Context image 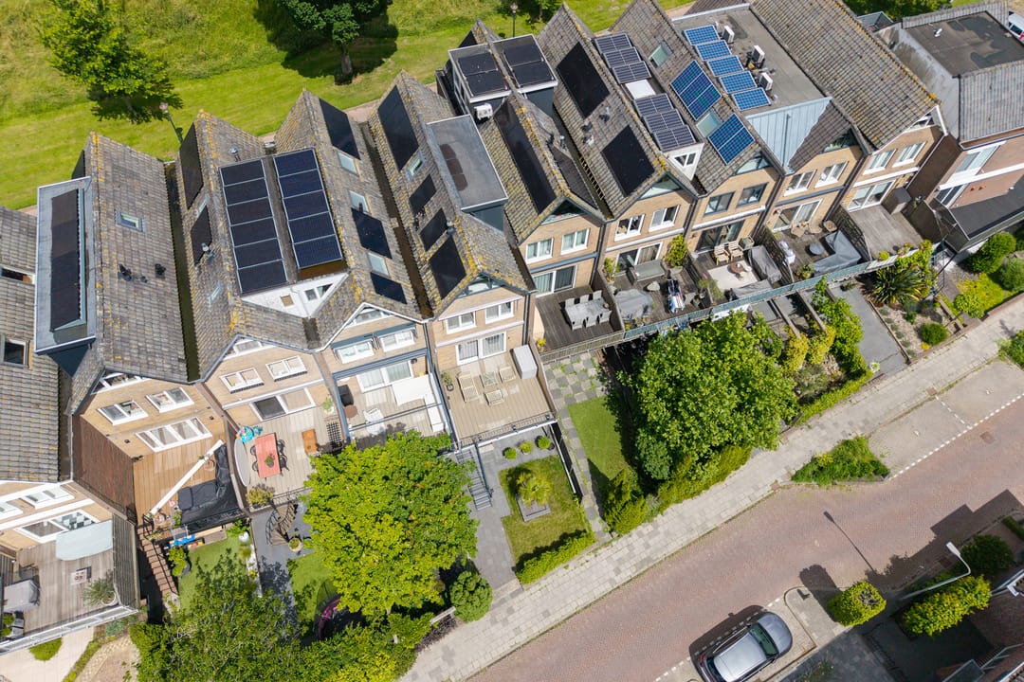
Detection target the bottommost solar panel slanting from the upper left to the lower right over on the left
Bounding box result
[371,270,406,305]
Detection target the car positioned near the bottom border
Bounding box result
[700,612,790,682]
